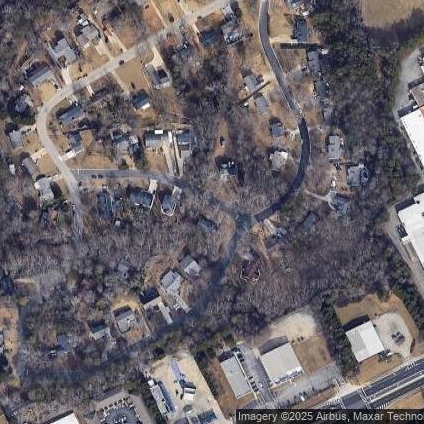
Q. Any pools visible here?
No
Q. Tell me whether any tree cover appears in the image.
Yes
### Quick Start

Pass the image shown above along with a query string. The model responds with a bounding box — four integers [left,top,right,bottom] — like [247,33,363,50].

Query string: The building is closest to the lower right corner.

[346,321,385,362]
